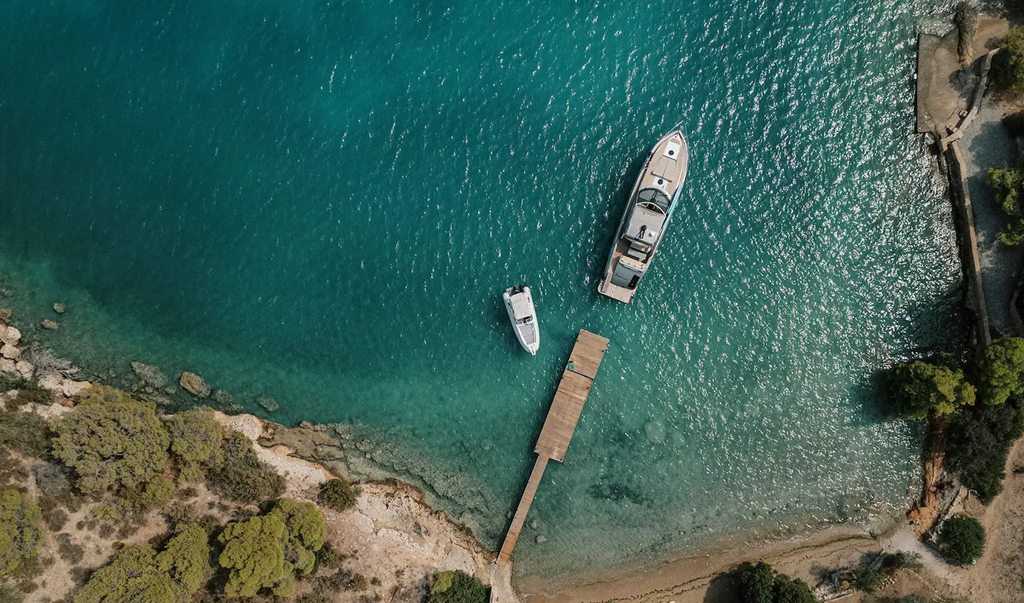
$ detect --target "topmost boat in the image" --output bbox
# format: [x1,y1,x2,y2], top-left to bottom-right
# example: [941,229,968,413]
[599,120,692,302]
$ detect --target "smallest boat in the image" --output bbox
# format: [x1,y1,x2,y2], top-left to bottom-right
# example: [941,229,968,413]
[502,283,540,357]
